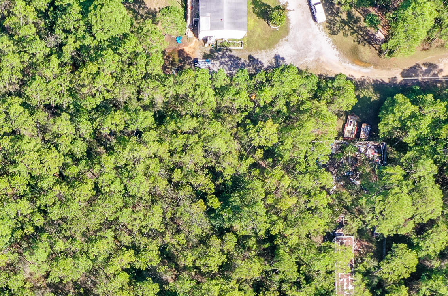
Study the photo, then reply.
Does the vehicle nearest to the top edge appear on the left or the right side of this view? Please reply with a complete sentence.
It is on the right.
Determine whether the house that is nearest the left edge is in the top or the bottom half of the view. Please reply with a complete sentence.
Seen from above, the house that is nearest the left edge lies in the top half of the view.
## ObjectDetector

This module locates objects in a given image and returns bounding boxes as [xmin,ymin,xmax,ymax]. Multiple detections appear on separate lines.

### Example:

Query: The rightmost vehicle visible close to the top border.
[307,0,328,24]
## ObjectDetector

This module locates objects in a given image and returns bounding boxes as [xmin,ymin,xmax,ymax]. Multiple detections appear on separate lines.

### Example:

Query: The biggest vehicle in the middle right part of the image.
[339,113,358,143]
